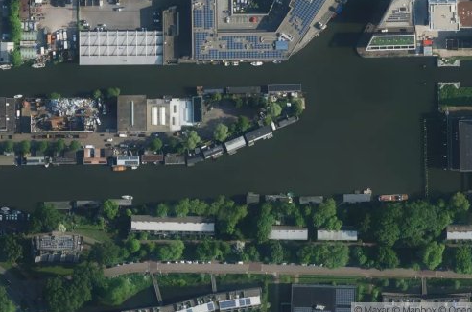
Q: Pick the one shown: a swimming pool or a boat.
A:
boat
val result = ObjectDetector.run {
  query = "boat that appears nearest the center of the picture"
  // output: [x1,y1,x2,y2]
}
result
[224,136,246,155]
